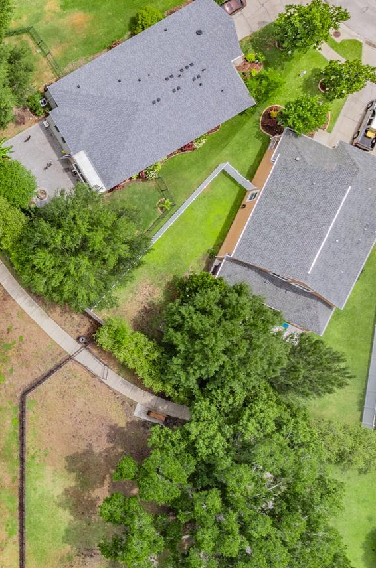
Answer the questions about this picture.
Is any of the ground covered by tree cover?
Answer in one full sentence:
Yes, some tree cover is visible.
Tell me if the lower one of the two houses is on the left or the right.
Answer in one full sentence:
The lower one of the two houses appears in the right half of the scene.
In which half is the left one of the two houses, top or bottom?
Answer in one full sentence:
The top half of the photo is where the left one of the two houses is.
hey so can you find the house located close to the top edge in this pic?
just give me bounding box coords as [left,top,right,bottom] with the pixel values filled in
[46,0,256,195]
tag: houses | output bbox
[46,0,256,195]
[199,126,376,335]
